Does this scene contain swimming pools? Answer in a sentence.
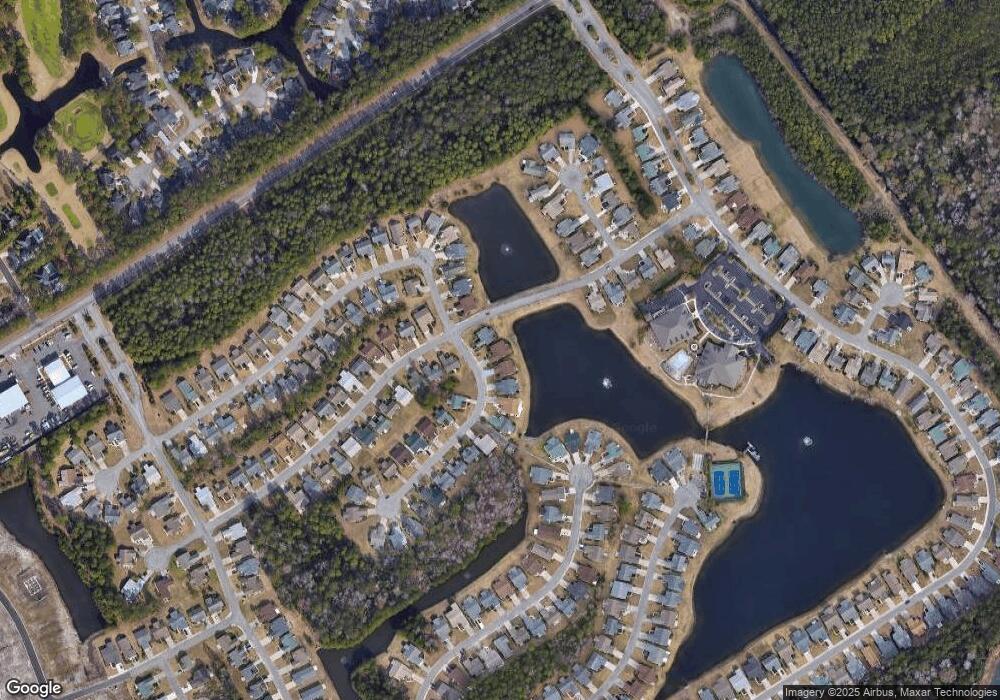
Yes, there is a swimming pool in the image.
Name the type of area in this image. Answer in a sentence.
This image shows a residential area.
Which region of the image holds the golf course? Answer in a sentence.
The golf course is in the top left part of the image.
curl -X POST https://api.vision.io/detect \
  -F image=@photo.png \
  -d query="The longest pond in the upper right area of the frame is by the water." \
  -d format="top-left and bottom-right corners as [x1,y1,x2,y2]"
[705,55,861,254]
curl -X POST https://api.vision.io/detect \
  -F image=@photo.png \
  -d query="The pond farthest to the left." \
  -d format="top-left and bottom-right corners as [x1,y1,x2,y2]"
[0,55,102,172]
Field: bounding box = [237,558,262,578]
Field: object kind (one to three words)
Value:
house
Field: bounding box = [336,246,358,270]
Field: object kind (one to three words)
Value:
house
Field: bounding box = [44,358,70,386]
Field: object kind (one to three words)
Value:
building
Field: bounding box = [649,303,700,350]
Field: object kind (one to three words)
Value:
building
